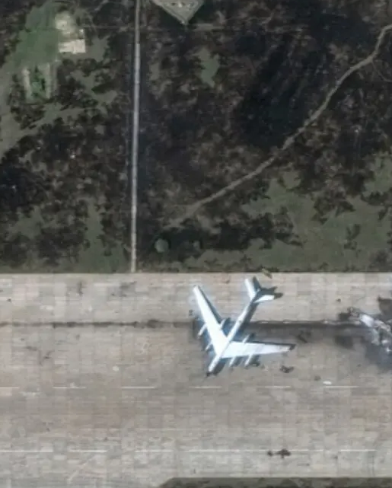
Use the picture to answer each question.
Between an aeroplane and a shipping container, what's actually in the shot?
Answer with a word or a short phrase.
aeroplane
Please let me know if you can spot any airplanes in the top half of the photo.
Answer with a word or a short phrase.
No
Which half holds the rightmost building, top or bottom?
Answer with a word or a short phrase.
top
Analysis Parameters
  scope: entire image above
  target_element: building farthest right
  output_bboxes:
[156,0,203,24]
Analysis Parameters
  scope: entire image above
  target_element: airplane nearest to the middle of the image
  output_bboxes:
[194,280,295,380]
